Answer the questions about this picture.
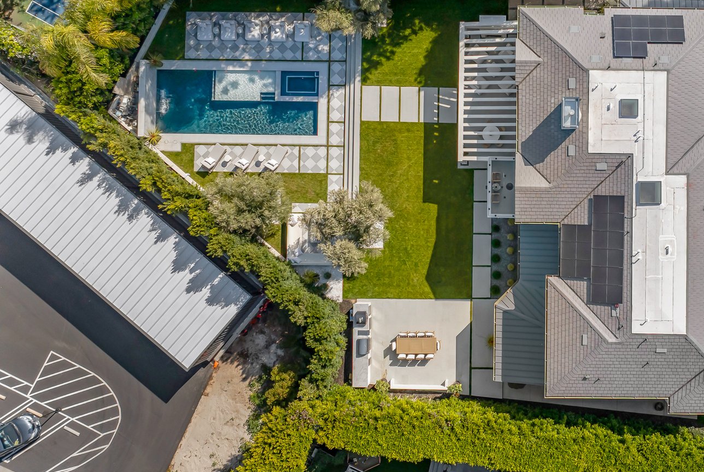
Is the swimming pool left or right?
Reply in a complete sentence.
It is on the left.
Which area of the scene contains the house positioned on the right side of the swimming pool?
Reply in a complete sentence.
The house positioned on the right side of the swimming pool is in the right part of the image.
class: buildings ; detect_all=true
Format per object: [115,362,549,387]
[489,0,704,416]
[0,56,277,372]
